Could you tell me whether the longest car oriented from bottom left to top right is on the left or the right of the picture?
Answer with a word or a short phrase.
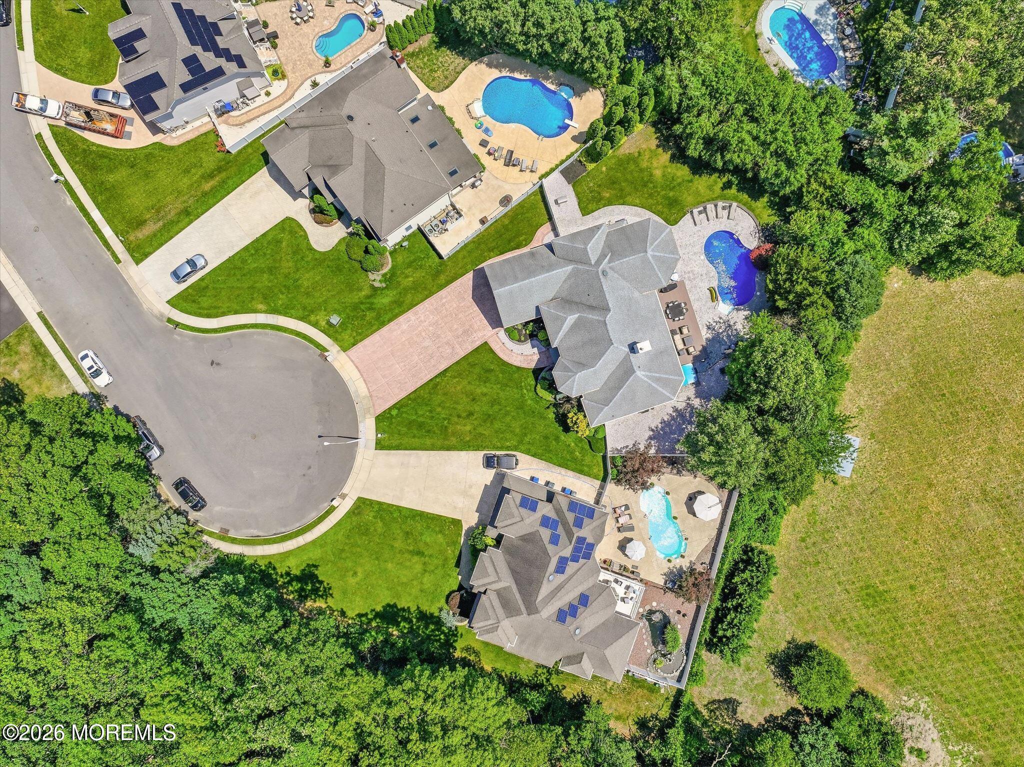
left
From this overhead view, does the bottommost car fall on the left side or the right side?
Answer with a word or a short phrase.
left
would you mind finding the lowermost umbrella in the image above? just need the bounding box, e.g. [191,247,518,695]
[625,540,646,561]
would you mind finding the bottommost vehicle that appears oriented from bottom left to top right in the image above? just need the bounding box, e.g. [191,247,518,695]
[164,252,207,284]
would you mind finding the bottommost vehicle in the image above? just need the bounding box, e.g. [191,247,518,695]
[167,475,205,515]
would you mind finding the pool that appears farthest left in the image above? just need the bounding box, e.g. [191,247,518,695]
[312,10,368,59]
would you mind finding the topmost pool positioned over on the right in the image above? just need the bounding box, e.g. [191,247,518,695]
[768,0,839,82]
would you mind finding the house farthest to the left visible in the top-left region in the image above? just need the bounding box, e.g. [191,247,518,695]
[108,0,276,133]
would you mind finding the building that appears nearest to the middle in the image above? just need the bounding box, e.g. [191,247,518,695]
[484,217,685,428]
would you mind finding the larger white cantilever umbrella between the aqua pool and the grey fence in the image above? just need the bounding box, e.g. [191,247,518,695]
[693,493,728,521]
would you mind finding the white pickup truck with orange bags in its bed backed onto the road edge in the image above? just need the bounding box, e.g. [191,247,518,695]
[4,87,60,117]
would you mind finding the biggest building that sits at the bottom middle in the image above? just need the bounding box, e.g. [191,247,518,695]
[469,472,642,684]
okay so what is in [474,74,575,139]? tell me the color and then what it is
blue swimming pool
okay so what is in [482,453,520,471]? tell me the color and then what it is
gray car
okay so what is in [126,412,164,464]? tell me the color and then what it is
gray truck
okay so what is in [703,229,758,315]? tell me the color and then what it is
blue swimming pool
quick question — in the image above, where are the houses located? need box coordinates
[108,0,276,133]
[261,42,483,246]
[484,217,685,428]
[469,472,642,684]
